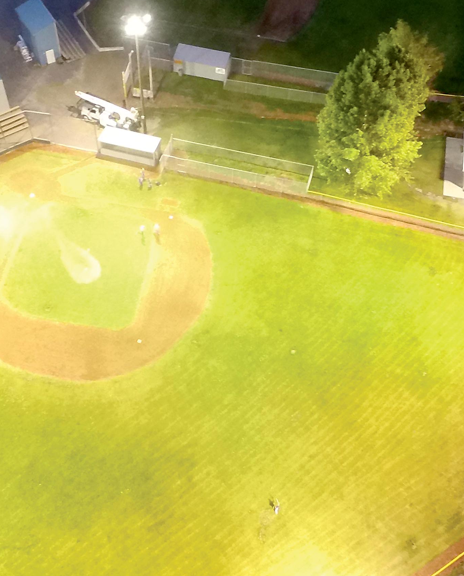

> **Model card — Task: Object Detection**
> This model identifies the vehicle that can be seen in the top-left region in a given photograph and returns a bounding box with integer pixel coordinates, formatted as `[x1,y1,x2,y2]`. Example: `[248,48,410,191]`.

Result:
[75,85,141,130]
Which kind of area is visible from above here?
sports ground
